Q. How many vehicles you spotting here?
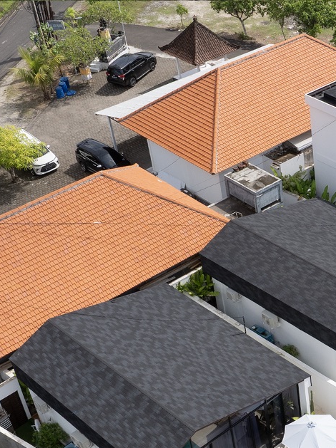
three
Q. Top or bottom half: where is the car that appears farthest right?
top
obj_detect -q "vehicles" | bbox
[11,127,59,177]
[105,51,156,86]
[75,135,133,179]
